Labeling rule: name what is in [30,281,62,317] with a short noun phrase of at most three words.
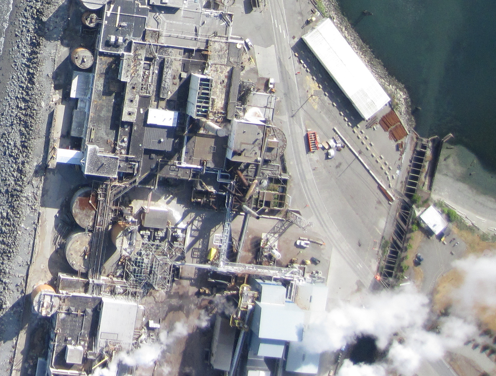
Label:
storage tank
